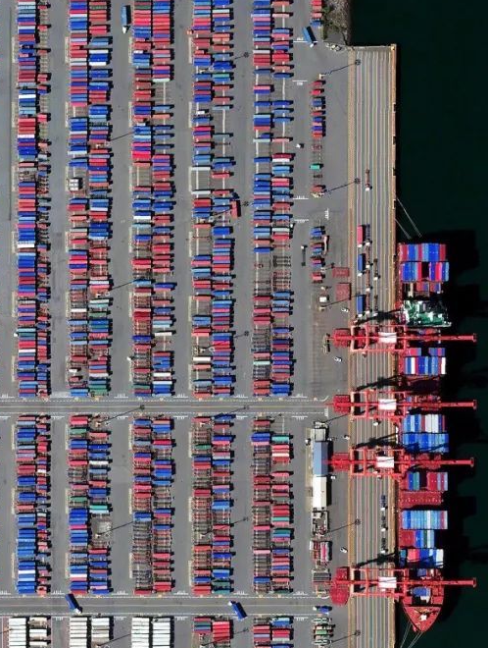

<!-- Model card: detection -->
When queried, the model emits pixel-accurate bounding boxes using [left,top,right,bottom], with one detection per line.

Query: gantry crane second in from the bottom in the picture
[332,444,476,481]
